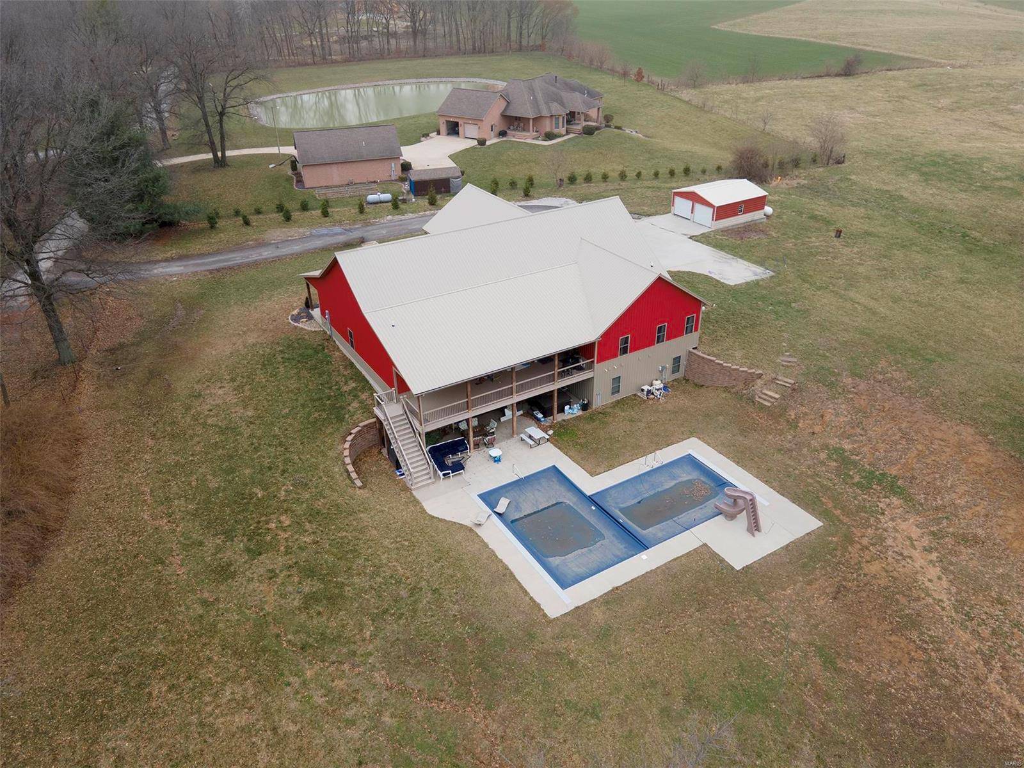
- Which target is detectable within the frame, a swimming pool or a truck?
swimming pool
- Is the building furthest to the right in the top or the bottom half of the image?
top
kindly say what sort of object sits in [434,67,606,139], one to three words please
house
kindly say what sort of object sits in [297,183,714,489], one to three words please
house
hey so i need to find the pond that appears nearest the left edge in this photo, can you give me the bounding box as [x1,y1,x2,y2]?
[249,79,510,127]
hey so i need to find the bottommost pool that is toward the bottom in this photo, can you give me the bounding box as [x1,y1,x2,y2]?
[470,446,766,603]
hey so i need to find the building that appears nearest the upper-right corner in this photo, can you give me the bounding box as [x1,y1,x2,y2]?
[670,178,771,229]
